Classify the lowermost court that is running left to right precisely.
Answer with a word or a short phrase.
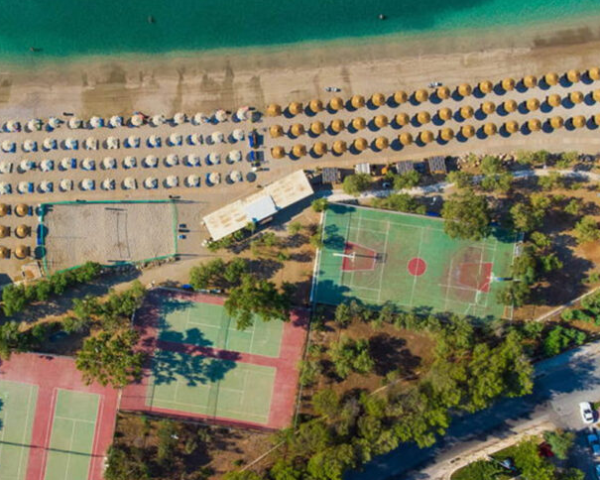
tennis court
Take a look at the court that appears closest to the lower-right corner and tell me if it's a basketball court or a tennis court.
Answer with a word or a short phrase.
basketball court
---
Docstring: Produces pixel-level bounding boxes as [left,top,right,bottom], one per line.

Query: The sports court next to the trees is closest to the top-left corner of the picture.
[41,200,177,274]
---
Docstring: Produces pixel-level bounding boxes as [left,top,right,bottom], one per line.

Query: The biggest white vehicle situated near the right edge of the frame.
[577,400,594,424]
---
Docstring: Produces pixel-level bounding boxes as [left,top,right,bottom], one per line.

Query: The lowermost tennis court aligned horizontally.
[119,334,299,429]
